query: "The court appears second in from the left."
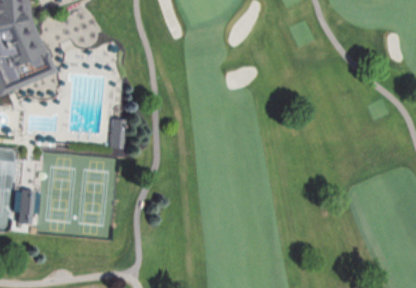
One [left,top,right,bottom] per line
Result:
[38,154,80,236]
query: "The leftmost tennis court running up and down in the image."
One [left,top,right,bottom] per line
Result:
[0,150,15,232]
